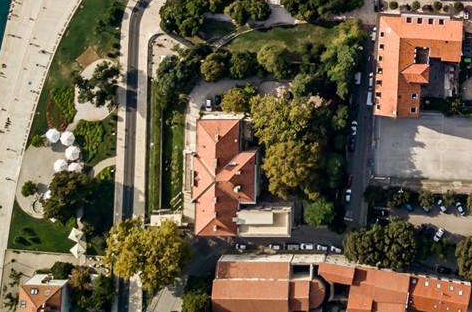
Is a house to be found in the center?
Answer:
Yes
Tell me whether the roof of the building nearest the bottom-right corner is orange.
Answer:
Yes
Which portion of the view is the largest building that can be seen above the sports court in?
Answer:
top right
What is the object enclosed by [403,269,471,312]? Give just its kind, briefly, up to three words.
building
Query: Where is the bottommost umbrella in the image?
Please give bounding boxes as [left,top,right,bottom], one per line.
[69,242,86,259]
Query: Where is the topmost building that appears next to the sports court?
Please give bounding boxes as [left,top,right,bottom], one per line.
[372,13,461,117]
